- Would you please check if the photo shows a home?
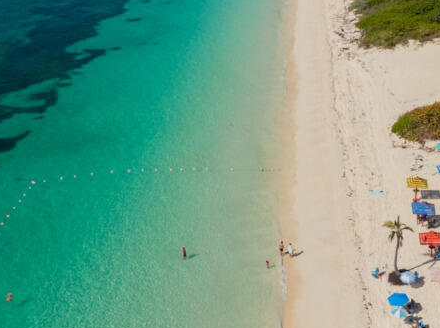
No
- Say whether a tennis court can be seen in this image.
No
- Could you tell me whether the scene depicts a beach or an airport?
beach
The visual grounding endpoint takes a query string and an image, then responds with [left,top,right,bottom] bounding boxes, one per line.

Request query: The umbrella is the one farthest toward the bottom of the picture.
[391,301,414,324]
